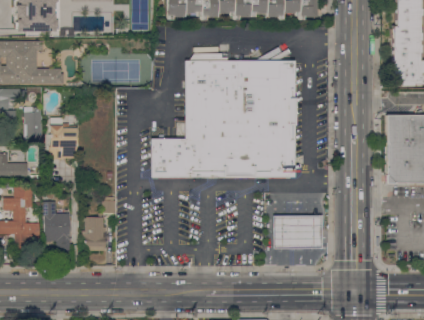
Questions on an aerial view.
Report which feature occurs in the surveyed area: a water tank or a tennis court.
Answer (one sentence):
I can see a tennis court in this picture.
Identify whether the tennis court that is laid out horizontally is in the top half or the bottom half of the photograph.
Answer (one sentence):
Seen from above, the tennis court that is laid out horizontally lies in the top half of the view.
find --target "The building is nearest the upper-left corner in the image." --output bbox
[17,0,60,32]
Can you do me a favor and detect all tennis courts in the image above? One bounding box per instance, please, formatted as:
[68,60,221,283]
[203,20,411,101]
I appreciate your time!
[130,0,150,32]
[82,55,153,86]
